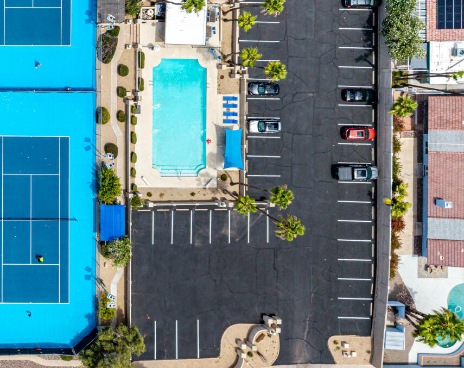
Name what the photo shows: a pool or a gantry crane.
pool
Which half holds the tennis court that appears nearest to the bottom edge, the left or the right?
left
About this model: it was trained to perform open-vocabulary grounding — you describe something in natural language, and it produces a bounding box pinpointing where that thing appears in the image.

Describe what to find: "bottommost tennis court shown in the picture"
[0,92,96,349]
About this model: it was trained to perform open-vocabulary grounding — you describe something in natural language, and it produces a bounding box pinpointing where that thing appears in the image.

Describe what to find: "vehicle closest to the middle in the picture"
[249,118,284,135]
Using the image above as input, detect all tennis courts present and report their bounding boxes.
[0,0,97,91]
[0,92,96,349]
